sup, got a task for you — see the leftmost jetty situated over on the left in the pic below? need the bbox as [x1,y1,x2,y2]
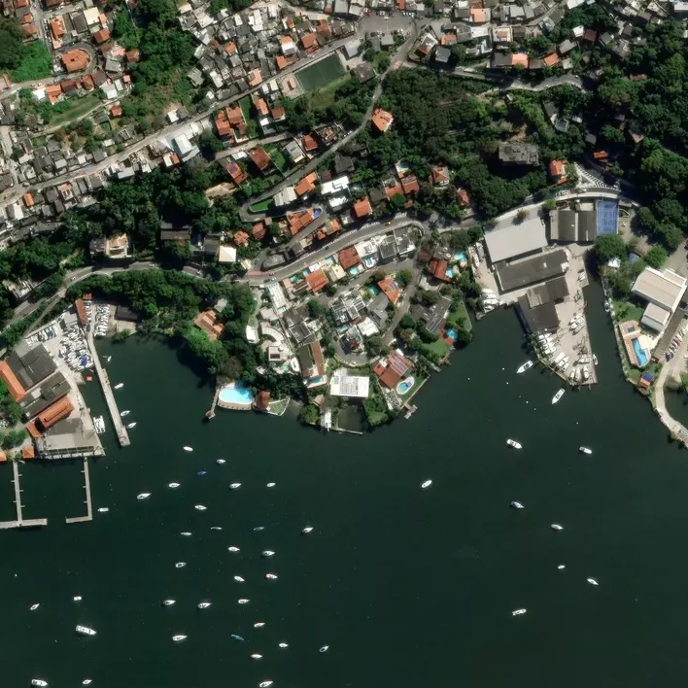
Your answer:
[0,460,47,529]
